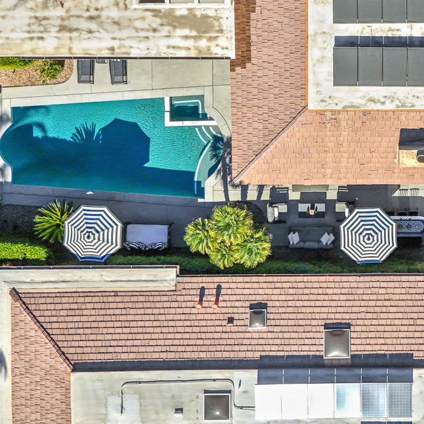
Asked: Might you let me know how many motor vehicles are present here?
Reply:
zero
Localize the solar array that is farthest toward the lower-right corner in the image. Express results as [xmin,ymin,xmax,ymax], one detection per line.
[255,383,413,421]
